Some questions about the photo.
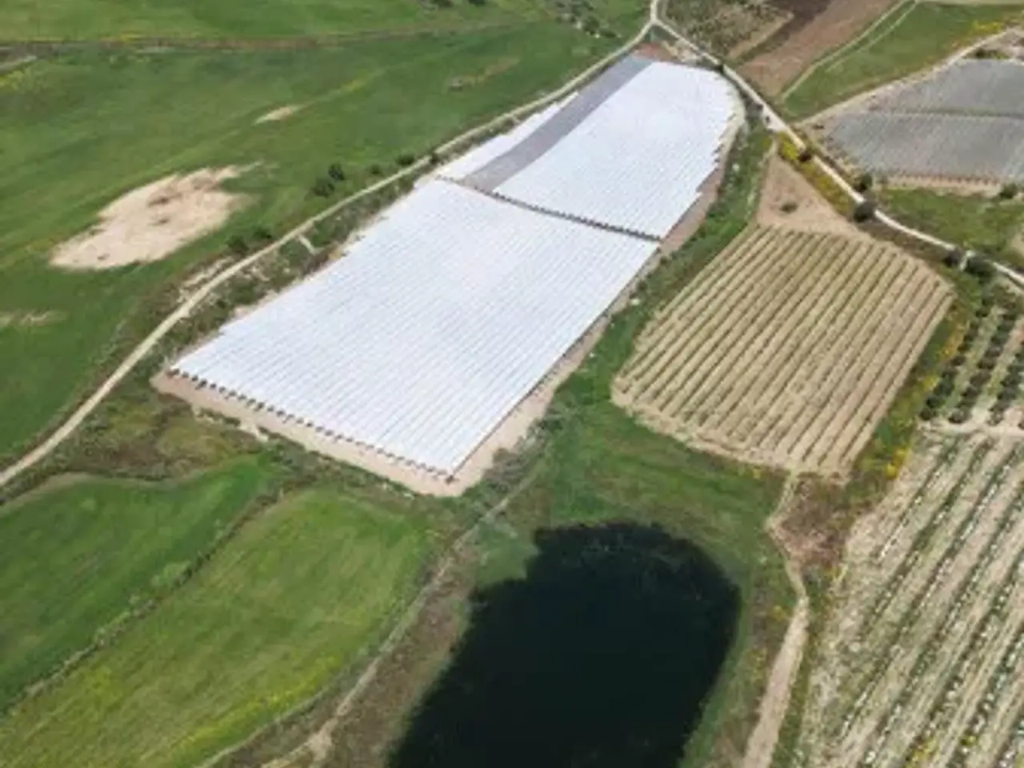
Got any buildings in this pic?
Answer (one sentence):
No, I can see no building in this picture.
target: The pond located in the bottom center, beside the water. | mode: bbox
[380,518,745,768]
